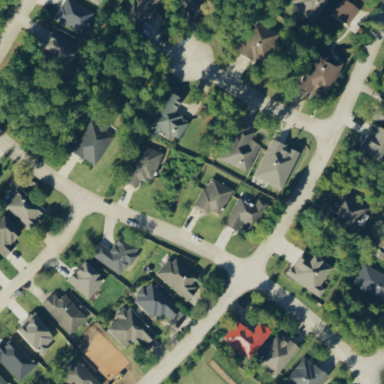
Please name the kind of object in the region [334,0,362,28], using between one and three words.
house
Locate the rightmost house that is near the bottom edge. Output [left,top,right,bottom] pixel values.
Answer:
[286,357,326,384]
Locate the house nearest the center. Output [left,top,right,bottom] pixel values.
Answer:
[195,176,236,218]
